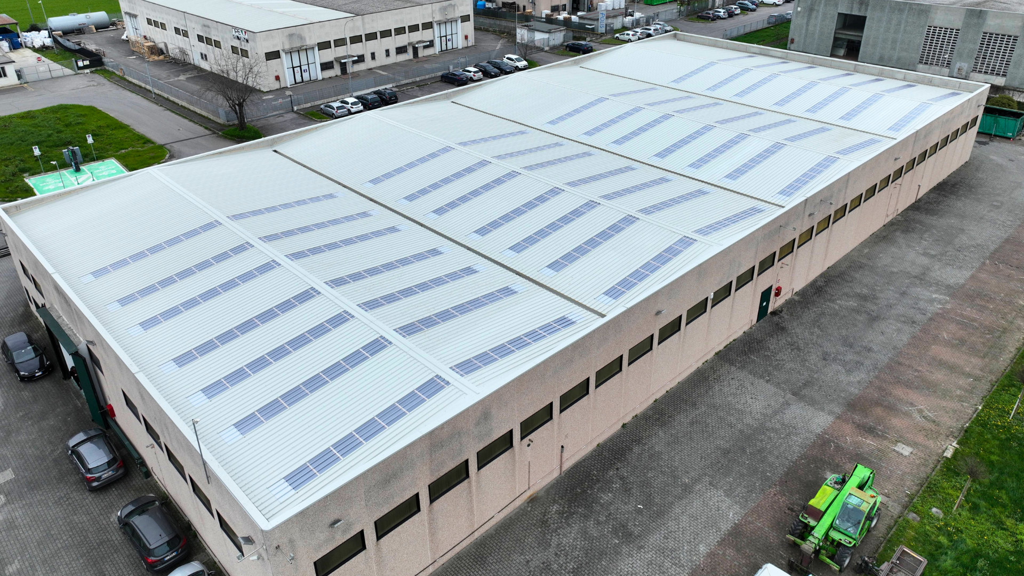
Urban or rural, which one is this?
urban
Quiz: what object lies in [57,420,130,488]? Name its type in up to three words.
car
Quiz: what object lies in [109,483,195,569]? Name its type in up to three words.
car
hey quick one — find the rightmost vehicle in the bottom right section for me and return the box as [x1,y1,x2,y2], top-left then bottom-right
[776,457,889,576]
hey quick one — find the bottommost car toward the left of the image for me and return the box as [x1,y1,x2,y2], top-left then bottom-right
[162,549,227,576]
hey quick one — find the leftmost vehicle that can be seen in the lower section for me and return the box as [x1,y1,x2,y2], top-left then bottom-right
[0,322,54,376]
